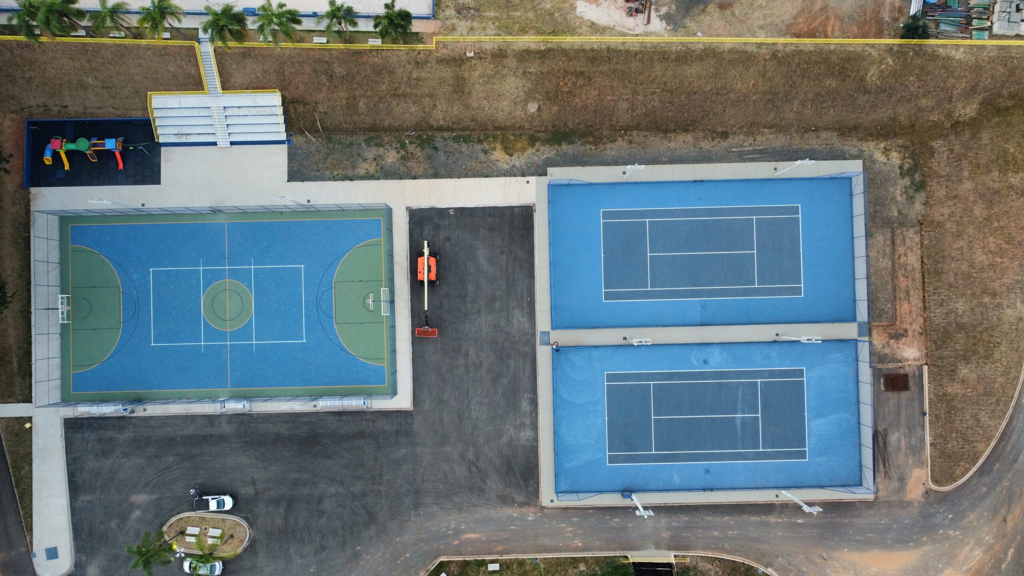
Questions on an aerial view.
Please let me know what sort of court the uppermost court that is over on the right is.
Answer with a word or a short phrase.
tennis court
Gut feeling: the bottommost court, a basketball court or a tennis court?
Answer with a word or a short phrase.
tennis court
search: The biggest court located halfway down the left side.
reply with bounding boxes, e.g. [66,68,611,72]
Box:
[61,209,395,401]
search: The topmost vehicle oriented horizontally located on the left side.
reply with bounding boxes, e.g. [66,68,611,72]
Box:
[194,495,234,513]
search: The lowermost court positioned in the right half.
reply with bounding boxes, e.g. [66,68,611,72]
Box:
[553,340,863,492]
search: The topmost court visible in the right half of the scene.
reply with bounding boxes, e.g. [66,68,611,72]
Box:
[550,176,857,329]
